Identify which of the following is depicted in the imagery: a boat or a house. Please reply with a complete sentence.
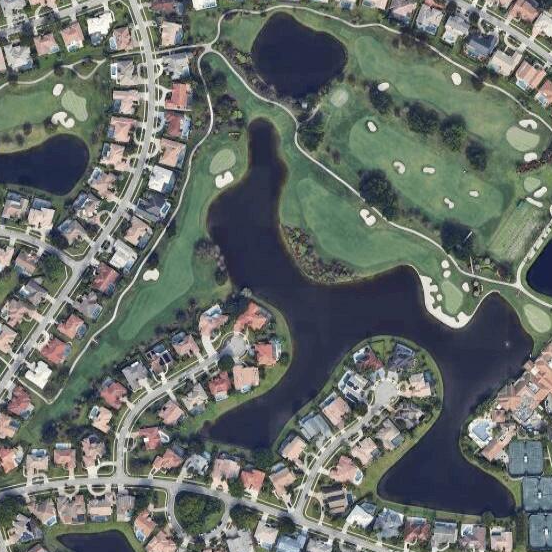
The one in the frame is a house.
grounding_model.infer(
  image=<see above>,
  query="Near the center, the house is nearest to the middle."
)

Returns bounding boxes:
[239,305,268,331]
